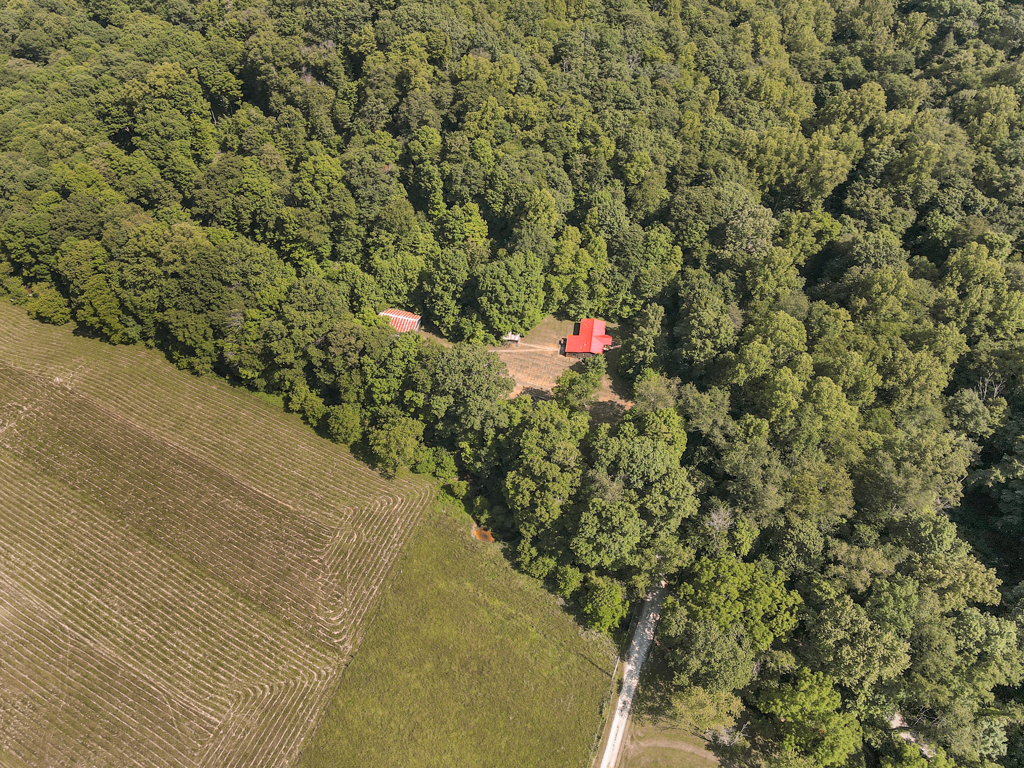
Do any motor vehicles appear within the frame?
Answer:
No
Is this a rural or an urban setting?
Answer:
rural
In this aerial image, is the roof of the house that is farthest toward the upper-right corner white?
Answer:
No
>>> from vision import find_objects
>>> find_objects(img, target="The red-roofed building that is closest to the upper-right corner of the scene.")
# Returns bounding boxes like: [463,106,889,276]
[563,322,612,363]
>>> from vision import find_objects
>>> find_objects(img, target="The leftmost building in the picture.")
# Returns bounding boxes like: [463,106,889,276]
[377,309,425,340]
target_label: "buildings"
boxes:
[563,322,612,363]
[503,331,520,343]
[377,309,425,340]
